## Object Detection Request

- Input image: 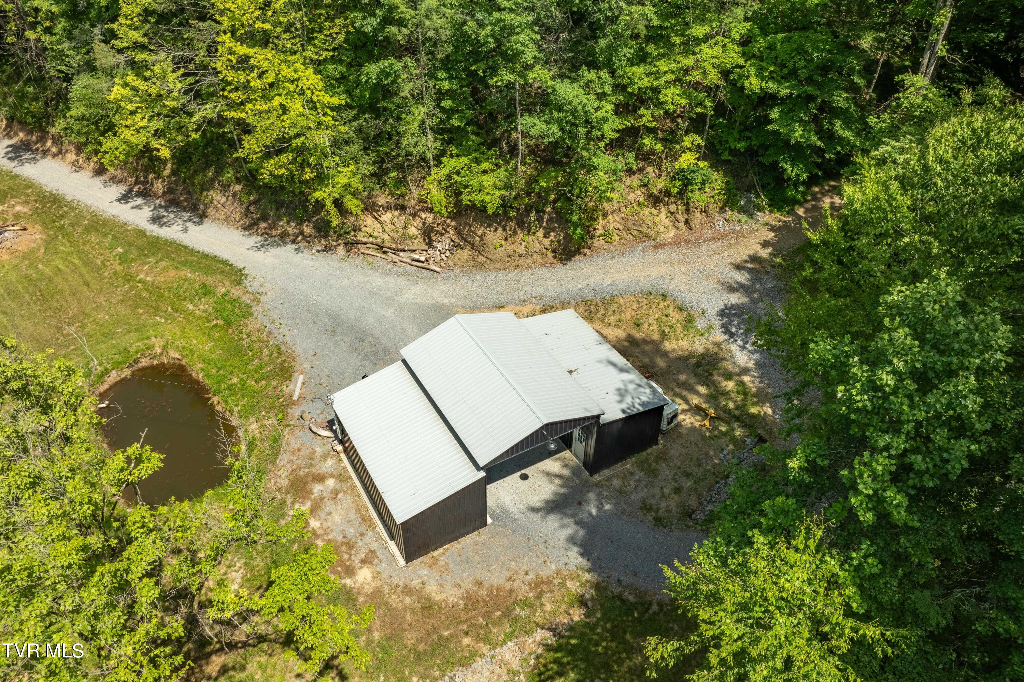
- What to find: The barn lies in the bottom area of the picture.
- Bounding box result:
[328,309,669,570]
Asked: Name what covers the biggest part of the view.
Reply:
trees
